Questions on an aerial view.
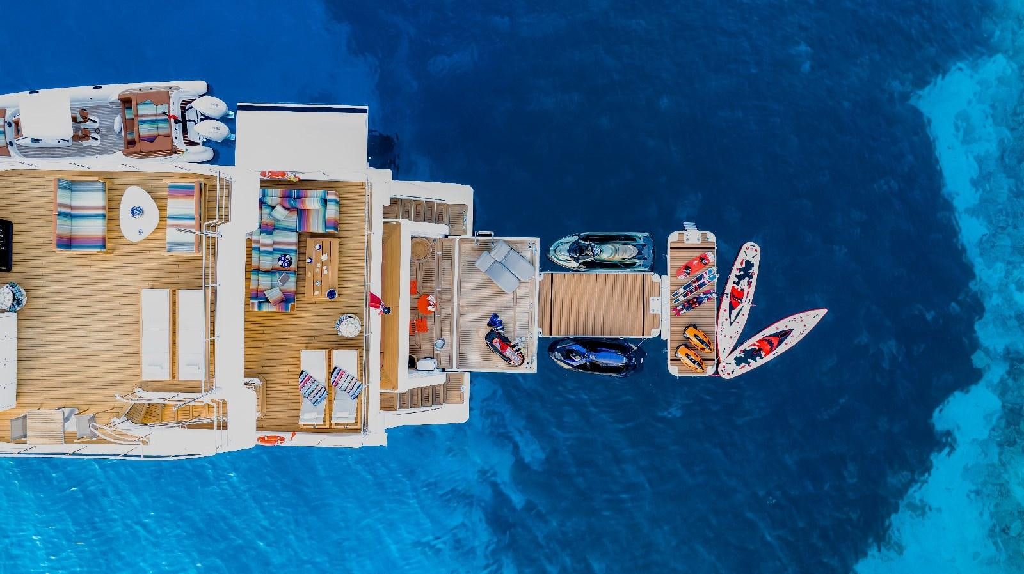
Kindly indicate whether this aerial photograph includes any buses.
No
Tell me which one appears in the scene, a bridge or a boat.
boat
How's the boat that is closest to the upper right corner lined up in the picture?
horizontally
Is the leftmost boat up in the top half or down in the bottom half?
top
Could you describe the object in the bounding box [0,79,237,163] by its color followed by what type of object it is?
white boat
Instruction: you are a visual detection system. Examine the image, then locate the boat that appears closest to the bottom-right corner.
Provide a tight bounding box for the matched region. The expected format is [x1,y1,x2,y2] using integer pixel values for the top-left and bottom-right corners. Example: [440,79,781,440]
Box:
[547,337,648,376]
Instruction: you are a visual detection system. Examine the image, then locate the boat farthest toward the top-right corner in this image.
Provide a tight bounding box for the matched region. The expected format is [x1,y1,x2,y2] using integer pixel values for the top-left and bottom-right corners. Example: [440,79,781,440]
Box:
[546,233,655,270]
